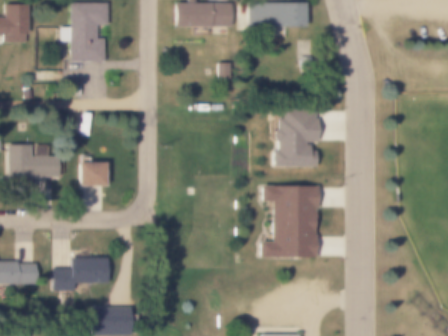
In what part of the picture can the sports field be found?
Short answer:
right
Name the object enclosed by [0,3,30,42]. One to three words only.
house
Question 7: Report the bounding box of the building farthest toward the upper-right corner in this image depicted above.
[247,1,310,28]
